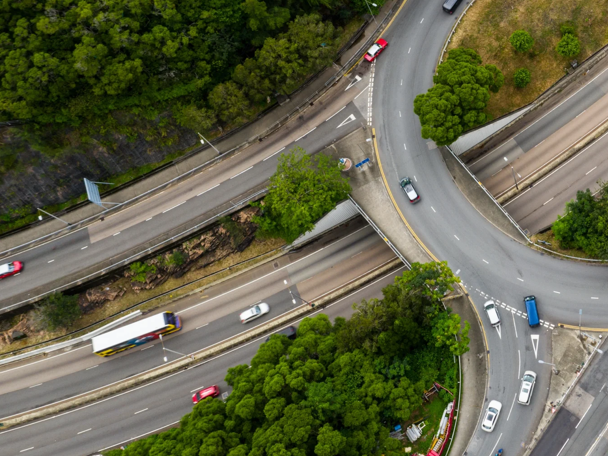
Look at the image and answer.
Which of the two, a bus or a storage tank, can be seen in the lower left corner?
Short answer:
bus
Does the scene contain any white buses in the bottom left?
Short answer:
Yes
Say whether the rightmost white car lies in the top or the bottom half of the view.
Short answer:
bottom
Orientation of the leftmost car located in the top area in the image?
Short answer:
on a diagonal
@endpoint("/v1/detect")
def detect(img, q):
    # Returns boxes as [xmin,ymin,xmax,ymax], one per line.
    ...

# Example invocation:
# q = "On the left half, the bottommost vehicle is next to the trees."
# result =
[191,383,223,405]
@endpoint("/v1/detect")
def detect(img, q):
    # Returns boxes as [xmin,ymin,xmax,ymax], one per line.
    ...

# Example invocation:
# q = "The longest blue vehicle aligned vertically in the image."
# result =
[521,295,540,330]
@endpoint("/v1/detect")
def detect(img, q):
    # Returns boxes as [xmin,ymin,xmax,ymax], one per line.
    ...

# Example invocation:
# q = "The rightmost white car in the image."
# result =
[516,368,538,407]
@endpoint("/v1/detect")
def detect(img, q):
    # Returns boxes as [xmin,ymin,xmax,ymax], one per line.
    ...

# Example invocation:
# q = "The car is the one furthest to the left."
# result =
[0,260,26,280]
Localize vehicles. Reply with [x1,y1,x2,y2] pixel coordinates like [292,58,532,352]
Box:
[0,260,26,280]
[483,298,502,331]
[191,383,223,405]
[442,0,462,16]
[363,38,391,64]
[92,308,188,359]
[516,368,538,407]
[237,300,272,325]
[479,396,504,437]
[399,175,420,208]
[521,295,540,330]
